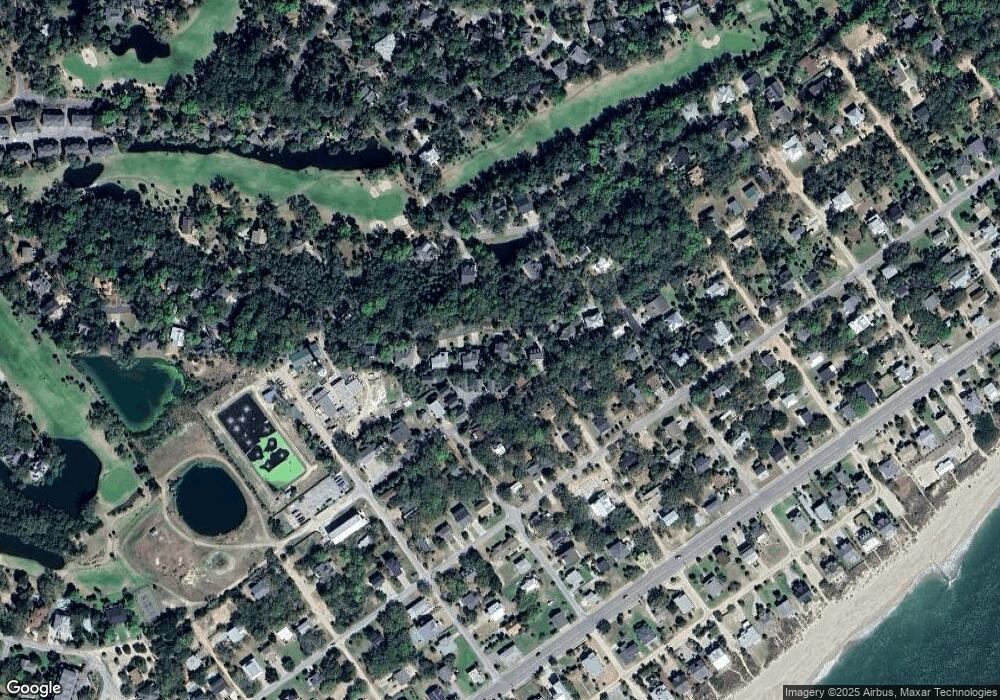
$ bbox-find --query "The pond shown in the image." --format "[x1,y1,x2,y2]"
[219,393,305,490]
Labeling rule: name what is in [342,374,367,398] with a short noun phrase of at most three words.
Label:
building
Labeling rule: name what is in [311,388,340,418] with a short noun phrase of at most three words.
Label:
shed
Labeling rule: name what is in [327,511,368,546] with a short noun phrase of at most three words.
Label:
building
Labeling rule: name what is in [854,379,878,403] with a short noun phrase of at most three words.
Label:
house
